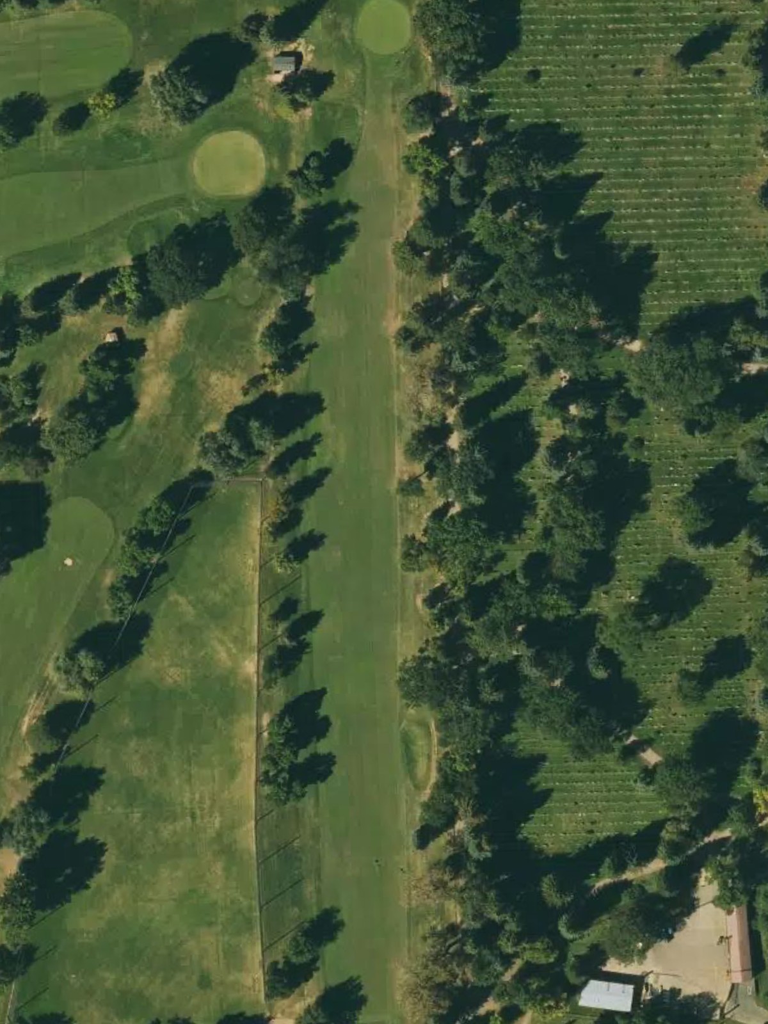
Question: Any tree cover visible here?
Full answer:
Yes, there's tree cover in this view.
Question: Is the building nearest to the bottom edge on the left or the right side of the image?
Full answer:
The building nearest to the bottom edge is on the right side of the image.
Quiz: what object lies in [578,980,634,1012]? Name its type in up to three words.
building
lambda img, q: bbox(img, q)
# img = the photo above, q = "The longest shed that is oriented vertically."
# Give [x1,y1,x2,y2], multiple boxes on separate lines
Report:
[727,908,752,984]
